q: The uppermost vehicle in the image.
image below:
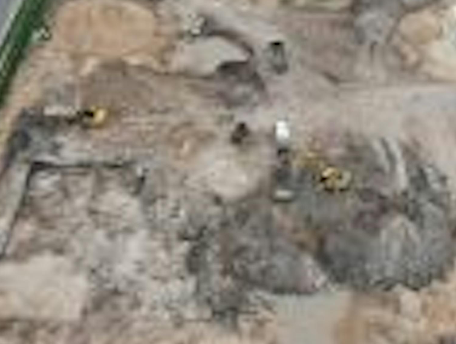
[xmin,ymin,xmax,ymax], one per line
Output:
[270,35,288,71]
